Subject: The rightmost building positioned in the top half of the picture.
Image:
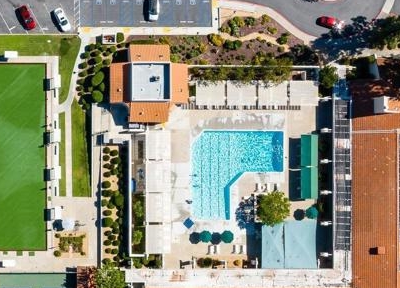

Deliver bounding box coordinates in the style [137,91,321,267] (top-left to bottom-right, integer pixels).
[109,44,189,129]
